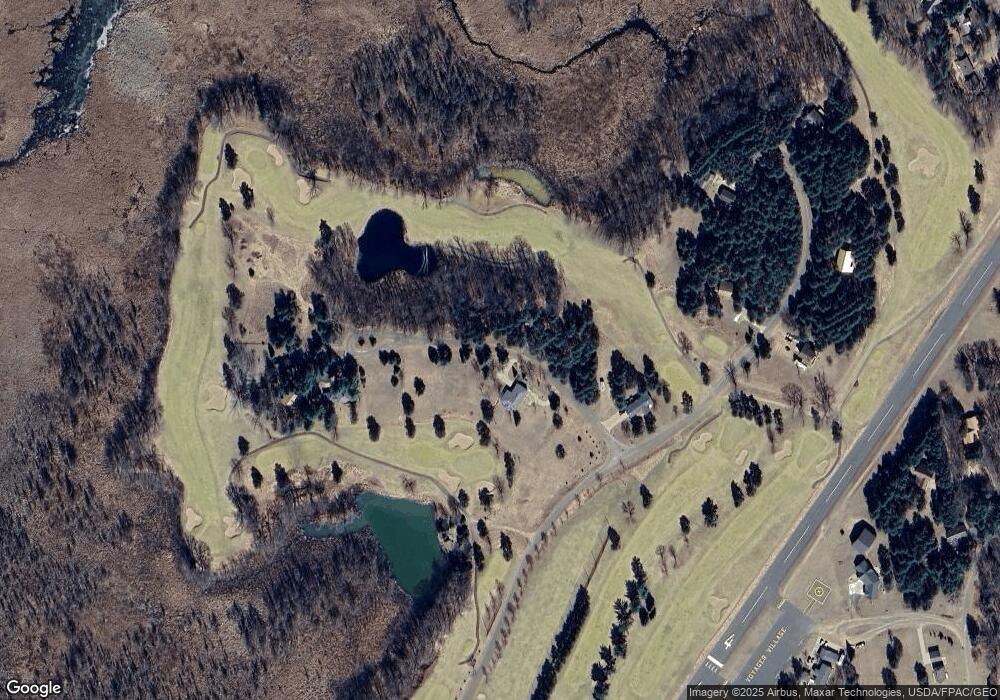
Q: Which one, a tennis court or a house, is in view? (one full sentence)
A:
The image shows a house.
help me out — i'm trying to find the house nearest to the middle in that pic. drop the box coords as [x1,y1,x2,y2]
[501,380,527,410]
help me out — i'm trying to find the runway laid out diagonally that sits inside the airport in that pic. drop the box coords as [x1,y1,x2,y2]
[680,231,1000,700]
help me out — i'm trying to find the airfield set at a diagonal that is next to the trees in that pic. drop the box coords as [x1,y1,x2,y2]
[680,231,1000,700]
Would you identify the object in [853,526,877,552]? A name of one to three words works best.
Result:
hangar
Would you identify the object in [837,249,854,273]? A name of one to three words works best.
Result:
house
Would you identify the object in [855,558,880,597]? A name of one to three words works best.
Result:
house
